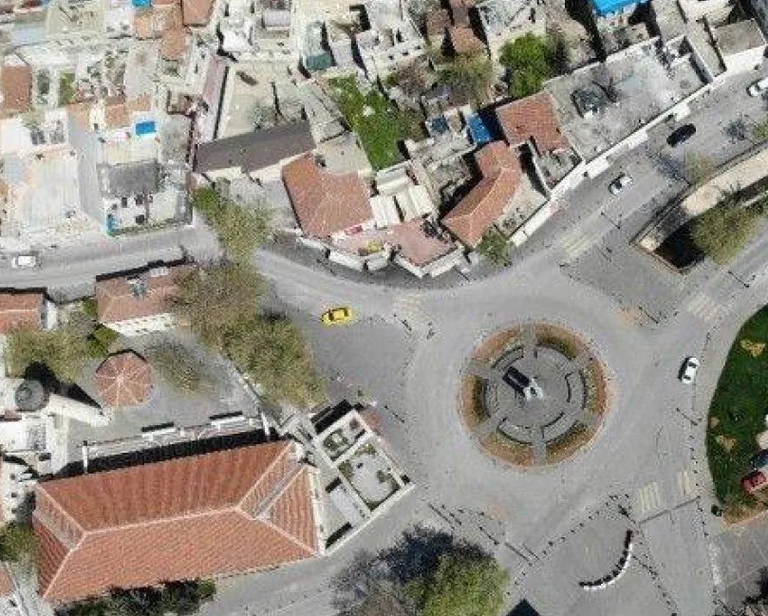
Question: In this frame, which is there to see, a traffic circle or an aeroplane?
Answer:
traffic circle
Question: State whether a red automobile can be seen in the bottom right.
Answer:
Yes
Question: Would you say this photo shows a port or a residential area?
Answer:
residential area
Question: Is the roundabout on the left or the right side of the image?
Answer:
right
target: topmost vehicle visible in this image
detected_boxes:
[747,74,768,95]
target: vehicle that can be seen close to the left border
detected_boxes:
[8,253,37,266]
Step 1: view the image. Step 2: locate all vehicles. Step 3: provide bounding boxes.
[747,74,768,95]
[742,471,768,491]
[667,123,694,144]
[322,307,350,323]
[609,172,633,192]
[8,253,37,266]
[683,355,698,385]
[750,450,768,470]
